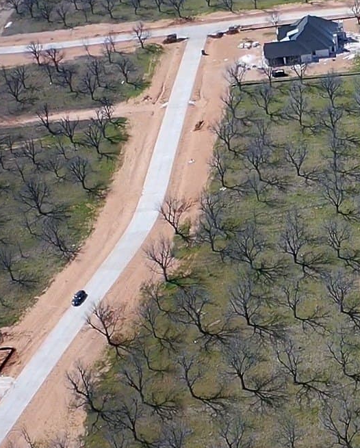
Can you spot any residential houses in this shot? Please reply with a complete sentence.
Yes, looking at the shot, I can spot a residential house.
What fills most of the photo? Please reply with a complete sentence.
The bulk of the photo consists of grass.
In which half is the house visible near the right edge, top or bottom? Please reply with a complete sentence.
You can find the house visible near the right edge in the top half.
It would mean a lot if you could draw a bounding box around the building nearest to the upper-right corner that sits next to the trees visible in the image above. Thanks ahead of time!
[267,12,349,66]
